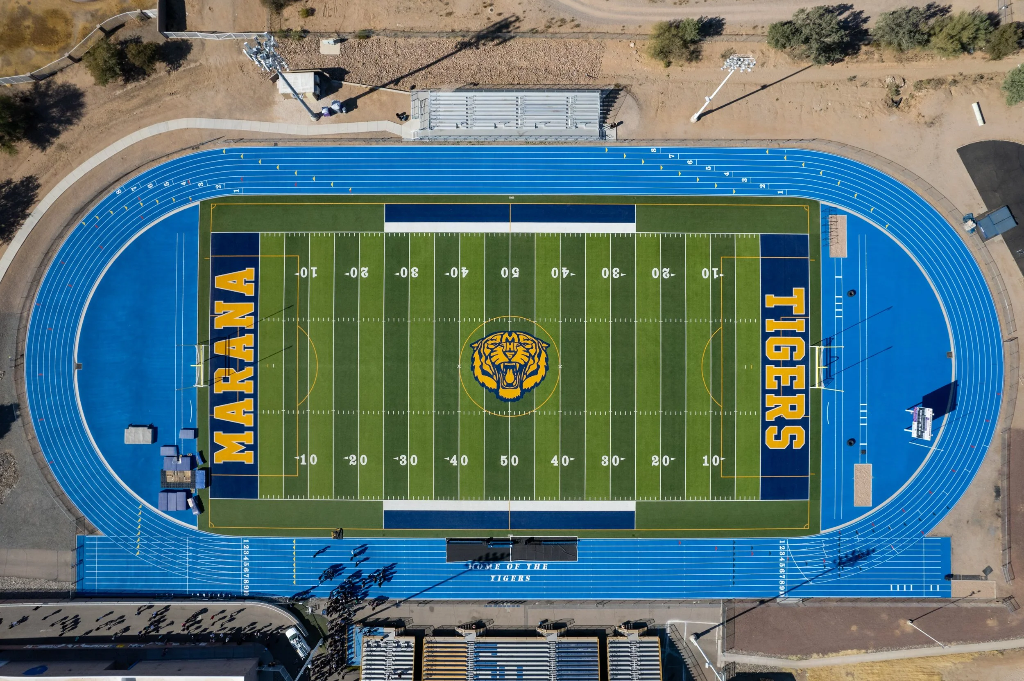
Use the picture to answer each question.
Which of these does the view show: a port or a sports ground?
sports ground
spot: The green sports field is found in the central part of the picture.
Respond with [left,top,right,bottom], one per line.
[199,195,821,539]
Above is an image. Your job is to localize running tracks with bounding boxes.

[24,146,1005,601]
